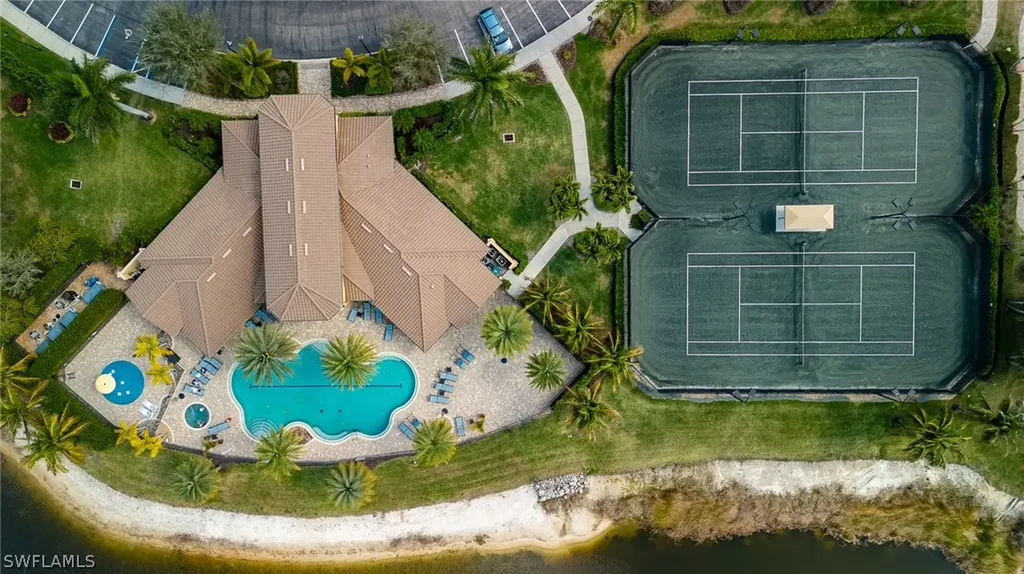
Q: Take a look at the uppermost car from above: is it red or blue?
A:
blue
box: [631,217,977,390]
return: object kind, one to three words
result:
tennis court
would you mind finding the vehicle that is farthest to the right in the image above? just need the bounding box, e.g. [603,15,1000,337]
[479,7,511,54]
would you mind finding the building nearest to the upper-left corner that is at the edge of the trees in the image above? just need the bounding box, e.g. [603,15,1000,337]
[126,95,503,360]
